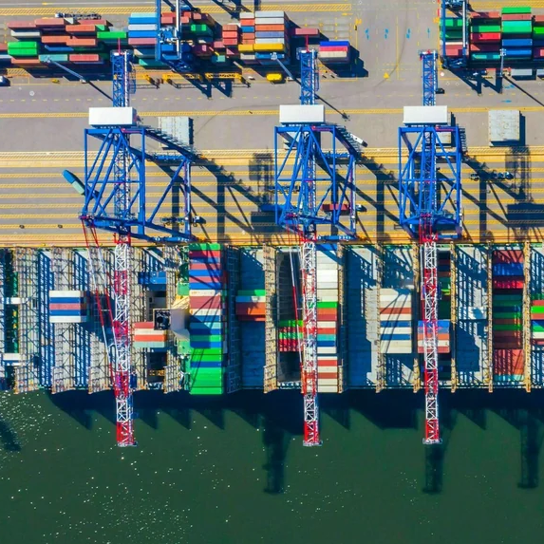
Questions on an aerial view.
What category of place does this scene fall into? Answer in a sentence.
This looks like a port.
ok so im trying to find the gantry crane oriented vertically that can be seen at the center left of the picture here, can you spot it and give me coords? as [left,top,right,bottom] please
[73,49,210,449]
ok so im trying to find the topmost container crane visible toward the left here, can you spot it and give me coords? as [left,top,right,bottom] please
[154,0,202,63]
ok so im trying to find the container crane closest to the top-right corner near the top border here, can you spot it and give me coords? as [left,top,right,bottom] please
[441,0,473,65]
